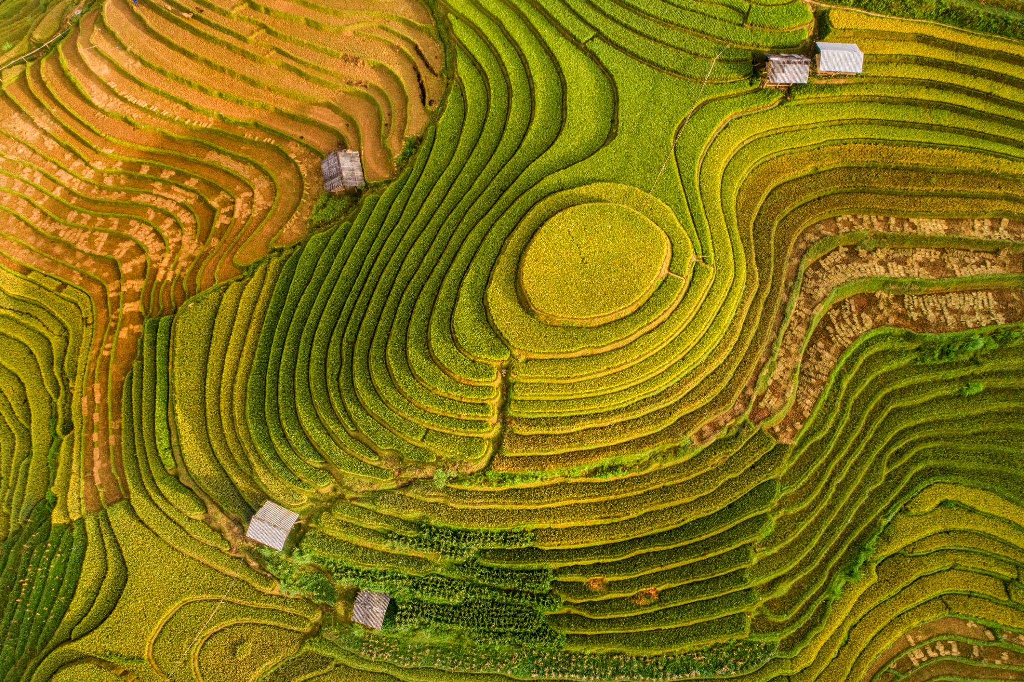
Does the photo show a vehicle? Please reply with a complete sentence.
No, the scene contains no vehicle.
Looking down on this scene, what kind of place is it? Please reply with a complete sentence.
This image shows farmland.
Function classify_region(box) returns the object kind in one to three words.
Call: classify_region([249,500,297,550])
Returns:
shed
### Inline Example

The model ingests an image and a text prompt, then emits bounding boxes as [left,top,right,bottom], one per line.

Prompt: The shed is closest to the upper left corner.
[322,152,369,194]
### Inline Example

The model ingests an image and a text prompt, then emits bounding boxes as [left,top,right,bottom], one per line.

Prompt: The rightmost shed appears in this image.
[807,43,865,82]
